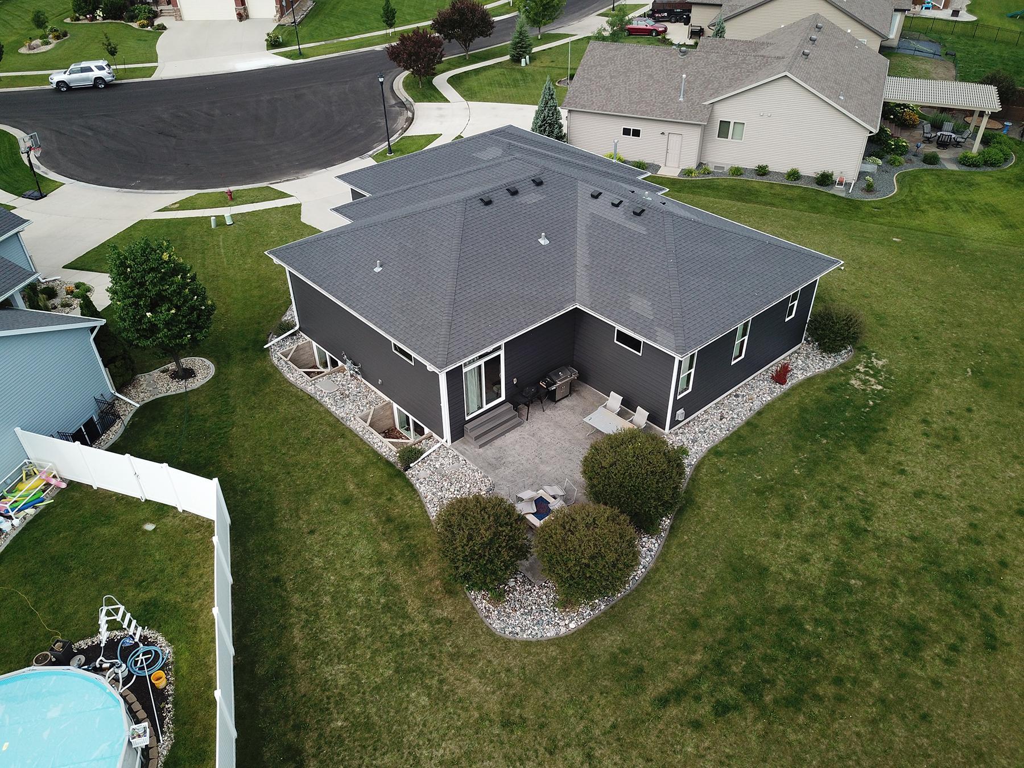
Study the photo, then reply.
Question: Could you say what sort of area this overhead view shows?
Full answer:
The picture captures a residential area.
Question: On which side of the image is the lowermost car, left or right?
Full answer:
It is on the left.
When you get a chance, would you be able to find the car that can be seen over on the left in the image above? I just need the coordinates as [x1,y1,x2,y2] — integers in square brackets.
[47,59,113,91]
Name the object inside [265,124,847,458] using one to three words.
house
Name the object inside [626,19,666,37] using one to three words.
car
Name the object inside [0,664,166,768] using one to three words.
swimming pool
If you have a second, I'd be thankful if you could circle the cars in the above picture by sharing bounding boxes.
[626,19,666,37]
[47,59,113,91]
